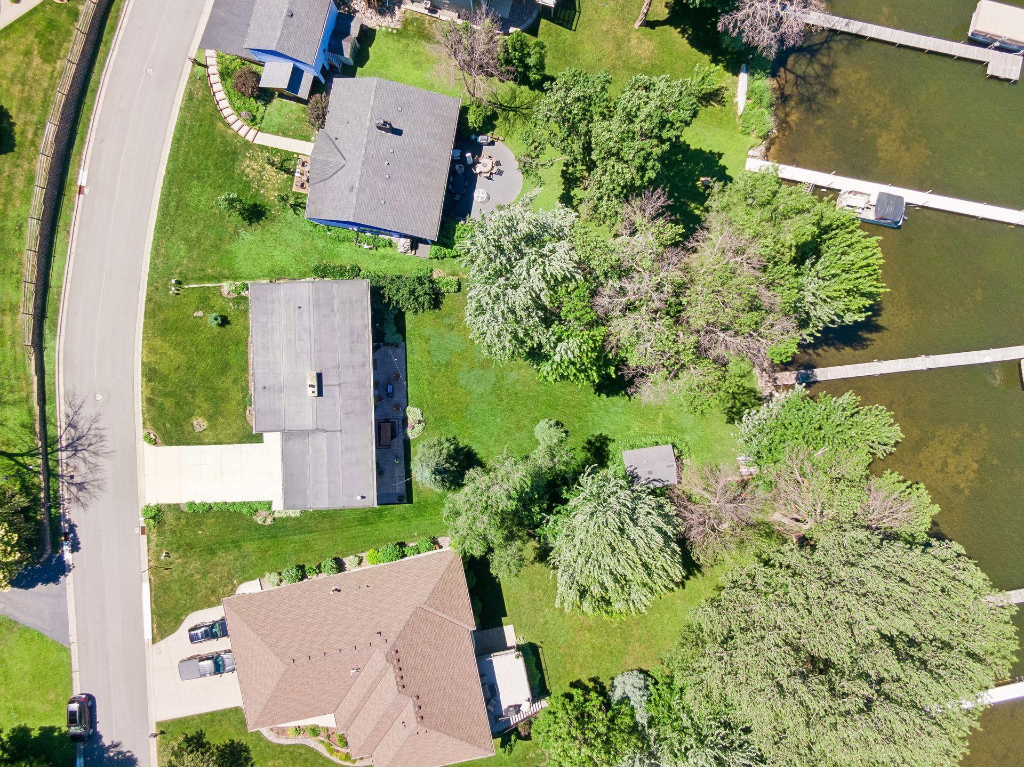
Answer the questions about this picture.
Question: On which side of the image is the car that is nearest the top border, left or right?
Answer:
left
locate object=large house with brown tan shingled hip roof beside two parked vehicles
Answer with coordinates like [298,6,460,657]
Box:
[221,547,496,767]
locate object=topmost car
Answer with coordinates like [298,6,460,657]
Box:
[189,620,229,646]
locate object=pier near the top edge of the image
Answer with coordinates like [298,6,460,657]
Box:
[805,11,1024,83]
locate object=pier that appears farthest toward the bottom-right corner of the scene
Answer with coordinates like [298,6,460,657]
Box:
[945,680,1024,713]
